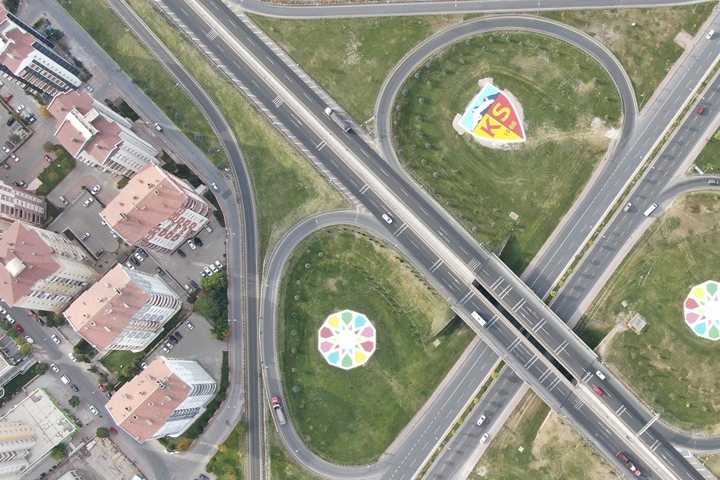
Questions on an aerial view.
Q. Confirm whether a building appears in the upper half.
Yes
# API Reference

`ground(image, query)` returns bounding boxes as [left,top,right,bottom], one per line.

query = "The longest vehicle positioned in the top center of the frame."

[325,107,352,133]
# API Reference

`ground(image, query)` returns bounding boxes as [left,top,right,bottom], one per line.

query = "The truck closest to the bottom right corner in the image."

[615,449,642,479]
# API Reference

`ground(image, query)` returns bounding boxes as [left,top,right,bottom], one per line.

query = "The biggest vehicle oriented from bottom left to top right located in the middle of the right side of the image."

[642,201,658,219]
